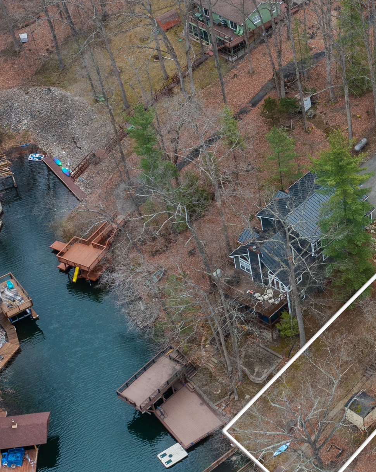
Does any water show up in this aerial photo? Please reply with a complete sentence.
Yes, there is water in the image.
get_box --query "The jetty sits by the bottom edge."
[116,344,227,451]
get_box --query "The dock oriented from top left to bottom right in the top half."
[43,156,86,203]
